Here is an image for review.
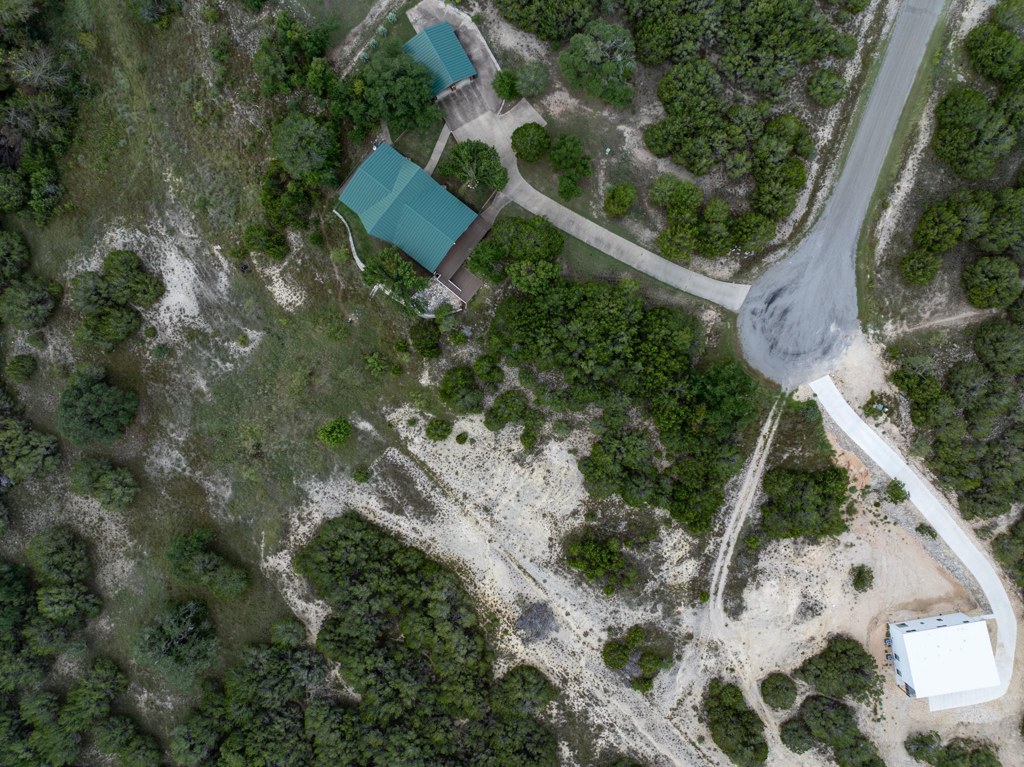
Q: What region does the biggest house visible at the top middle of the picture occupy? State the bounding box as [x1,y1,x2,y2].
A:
[336,141,478,273]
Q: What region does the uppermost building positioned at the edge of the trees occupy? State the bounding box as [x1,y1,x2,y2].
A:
[402,21,478,104]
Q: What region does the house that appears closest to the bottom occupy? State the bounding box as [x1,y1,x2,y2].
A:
[888,609,999,701]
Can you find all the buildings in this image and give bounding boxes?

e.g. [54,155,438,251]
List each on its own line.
[888,609,999,701]
[336,141,478,273]
[402,21,478,104]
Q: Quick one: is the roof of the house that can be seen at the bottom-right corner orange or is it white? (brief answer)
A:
white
